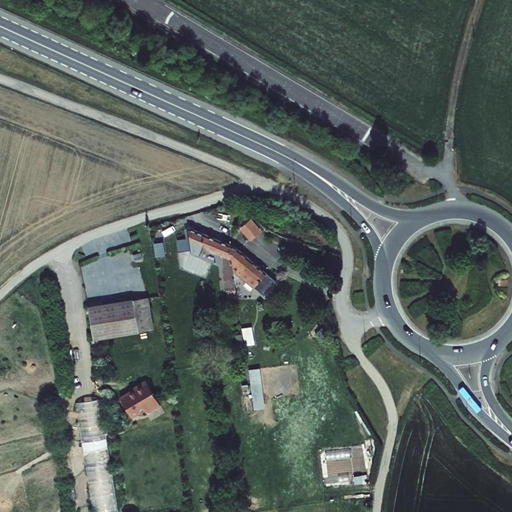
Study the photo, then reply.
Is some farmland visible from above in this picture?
Yes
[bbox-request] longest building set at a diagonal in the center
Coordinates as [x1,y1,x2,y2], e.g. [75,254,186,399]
[186,229,264,288]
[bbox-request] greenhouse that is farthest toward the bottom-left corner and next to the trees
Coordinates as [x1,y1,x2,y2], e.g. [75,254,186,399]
[76,402,118,512]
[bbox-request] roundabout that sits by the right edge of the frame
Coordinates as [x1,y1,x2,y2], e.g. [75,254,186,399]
[373,199,512,365]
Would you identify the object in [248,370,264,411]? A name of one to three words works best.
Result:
shed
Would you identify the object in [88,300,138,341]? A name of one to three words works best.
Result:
barn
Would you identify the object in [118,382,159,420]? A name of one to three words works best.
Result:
house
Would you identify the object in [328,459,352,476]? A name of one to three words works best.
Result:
building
